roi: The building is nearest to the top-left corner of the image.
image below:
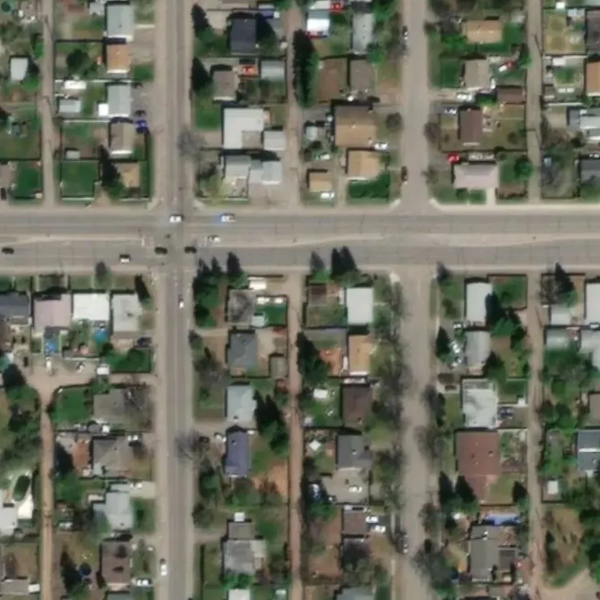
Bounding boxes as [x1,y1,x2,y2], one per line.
[10,58,27,82]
